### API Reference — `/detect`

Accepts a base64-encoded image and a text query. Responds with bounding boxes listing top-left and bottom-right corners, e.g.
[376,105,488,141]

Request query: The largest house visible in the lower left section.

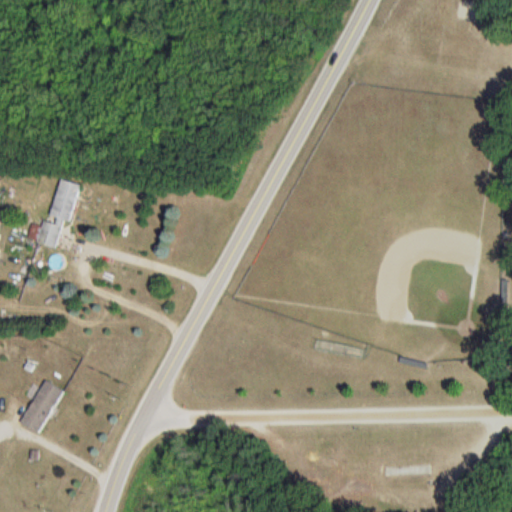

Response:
[21,381,64,432]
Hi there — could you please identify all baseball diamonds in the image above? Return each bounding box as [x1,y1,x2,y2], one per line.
[236,83,501,362]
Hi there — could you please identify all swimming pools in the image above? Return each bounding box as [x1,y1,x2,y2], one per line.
[48,254,66,270]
